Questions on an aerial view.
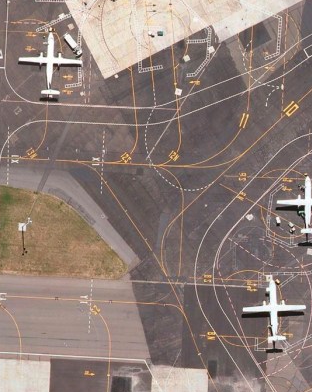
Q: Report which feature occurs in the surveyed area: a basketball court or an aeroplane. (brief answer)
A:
aeroplane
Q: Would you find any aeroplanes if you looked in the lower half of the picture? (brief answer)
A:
Yes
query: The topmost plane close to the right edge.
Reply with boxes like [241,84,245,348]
[277,176,312,234]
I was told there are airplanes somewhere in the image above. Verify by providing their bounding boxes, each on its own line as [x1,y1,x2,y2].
[242,281,306,343]
[19,32,82,95]
[277,176,312,234]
